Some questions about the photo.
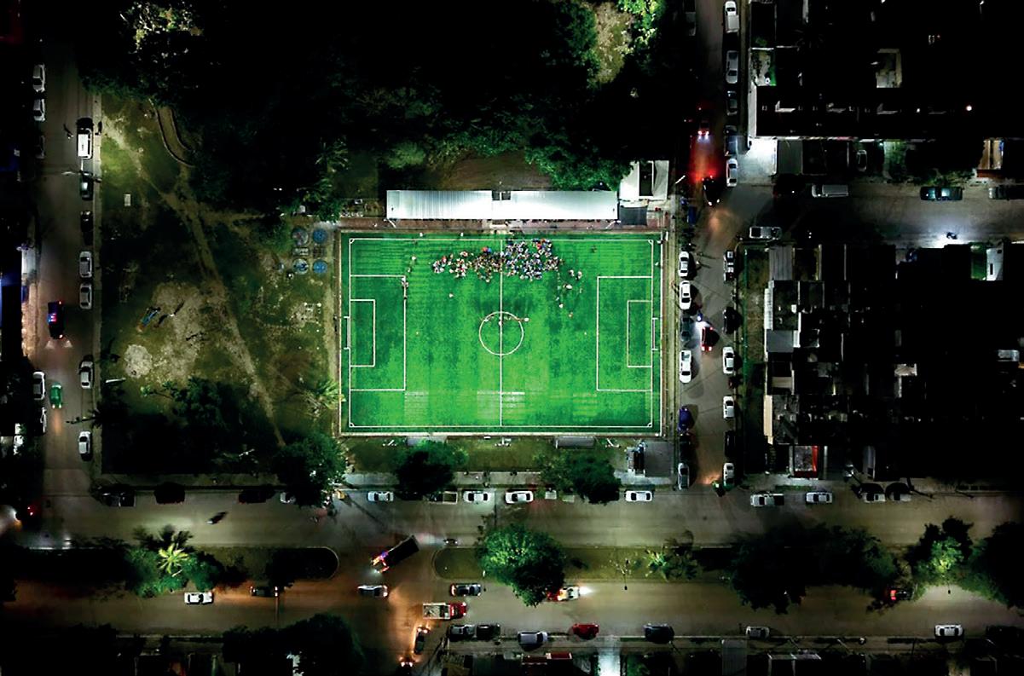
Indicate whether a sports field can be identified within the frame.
Yes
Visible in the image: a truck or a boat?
truck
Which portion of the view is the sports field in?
center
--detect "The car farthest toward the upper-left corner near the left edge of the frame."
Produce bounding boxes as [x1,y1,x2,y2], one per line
[31,64,48,92]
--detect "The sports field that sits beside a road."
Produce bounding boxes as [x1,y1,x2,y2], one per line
[336,228,666,438]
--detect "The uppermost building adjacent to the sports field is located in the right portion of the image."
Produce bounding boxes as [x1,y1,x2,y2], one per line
[620,159,668,204]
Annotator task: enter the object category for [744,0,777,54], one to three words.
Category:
house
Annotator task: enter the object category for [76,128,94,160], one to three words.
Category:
vehicle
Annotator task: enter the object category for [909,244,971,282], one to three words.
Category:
house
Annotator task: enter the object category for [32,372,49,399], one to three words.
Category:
car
